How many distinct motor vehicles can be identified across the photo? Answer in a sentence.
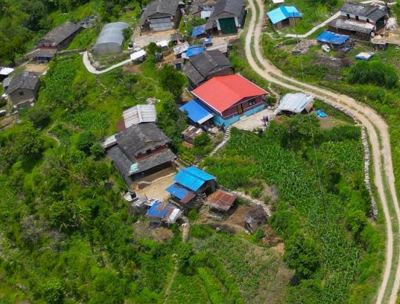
No motor vehicles are visible.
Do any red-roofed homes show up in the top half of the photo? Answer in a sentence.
Yes, a red-roofed home can be seen in the top half of the photo.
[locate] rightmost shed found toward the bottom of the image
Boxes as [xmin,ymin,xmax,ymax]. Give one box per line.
[202,185,243,223]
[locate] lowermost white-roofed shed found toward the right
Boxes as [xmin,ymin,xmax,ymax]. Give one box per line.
[277,89,314,125]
